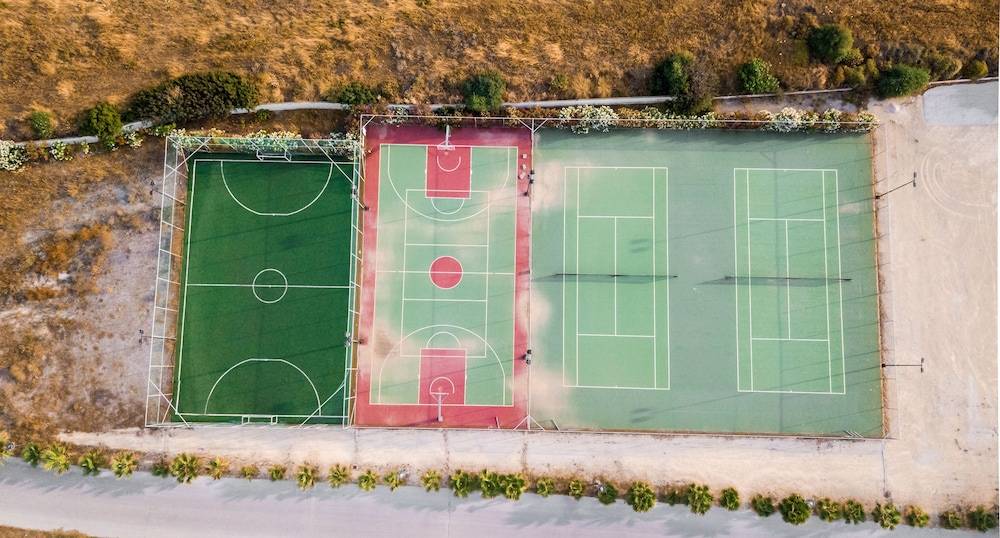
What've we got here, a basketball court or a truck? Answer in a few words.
basketball court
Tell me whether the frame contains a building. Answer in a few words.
No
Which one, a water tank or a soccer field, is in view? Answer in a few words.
soccer field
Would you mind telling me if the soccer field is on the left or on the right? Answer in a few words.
left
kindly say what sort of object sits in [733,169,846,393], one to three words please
tennis court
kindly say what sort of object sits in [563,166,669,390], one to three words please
tennis court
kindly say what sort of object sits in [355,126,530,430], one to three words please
basketball court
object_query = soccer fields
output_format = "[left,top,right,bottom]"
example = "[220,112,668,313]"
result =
[171,153,361,424]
